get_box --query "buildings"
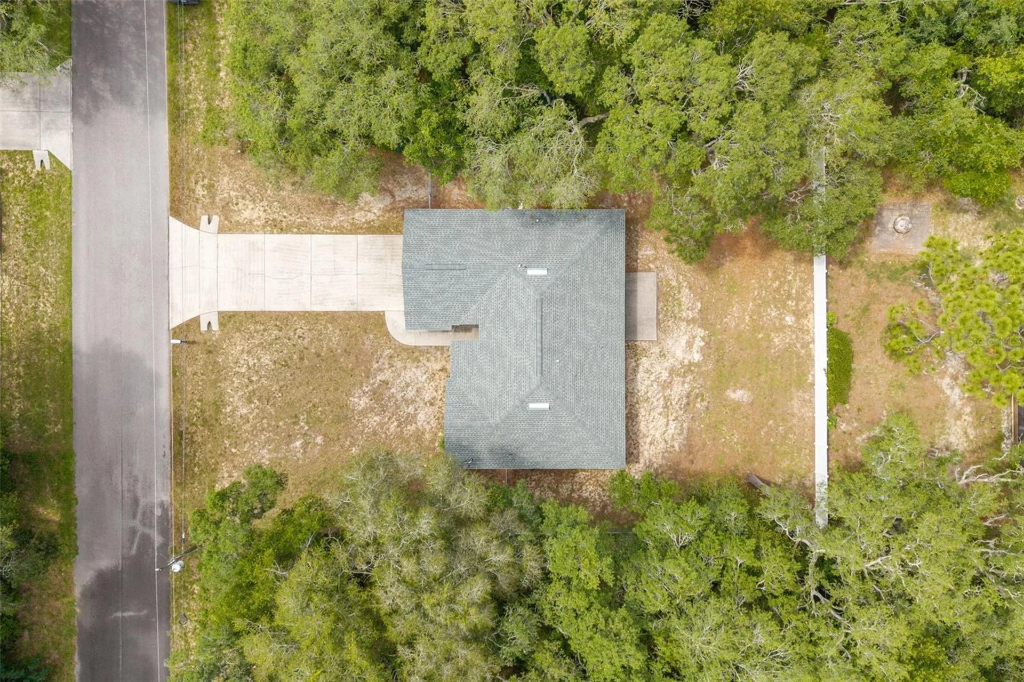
[402,207,627,471]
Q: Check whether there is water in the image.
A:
No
